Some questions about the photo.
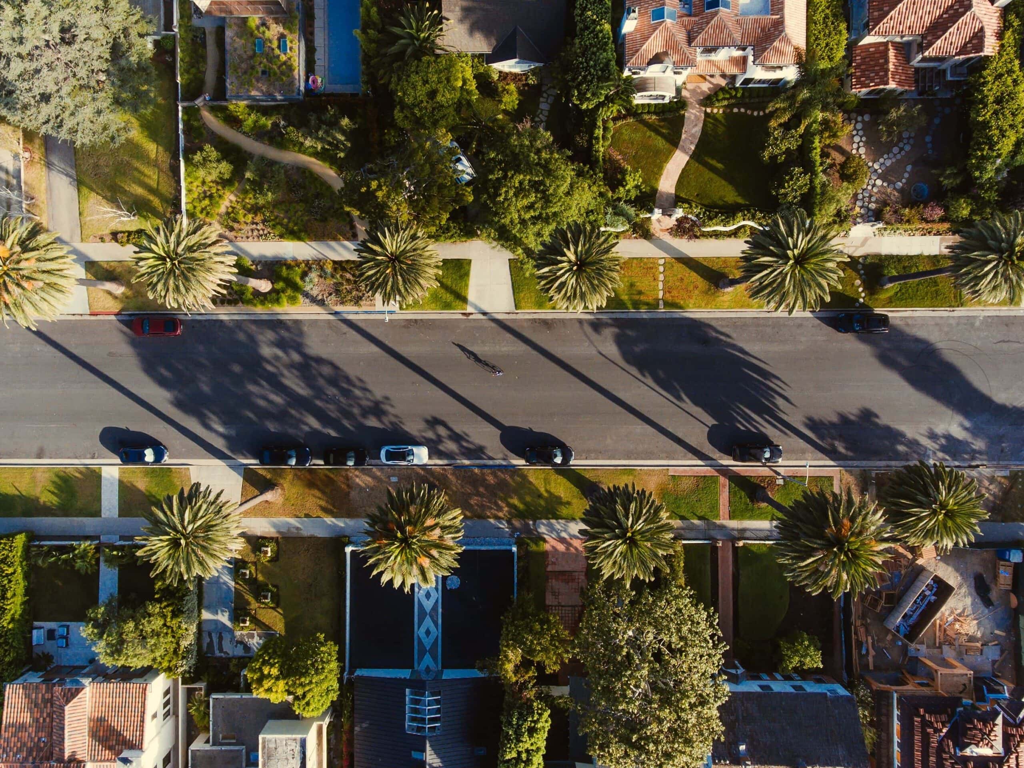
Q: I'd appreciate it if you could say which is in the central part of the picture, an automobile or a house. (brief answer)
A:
automobile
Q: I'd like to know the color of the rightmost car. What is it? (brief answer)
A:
black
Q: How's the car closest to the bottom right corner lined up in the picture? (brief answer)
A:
from side to side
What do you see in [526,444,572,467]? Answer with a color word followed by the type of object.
black car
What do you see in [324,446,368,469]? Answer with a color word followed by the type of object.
black car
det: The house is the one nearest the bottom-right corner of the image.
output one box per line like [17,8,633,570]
[859,656,1024,768]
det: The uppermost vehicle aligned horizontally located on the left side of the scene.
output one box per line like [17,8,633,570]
[133,315,183,338]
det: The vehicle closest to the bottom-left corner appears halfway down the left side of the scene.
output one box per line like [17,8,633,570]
[119,444,170,467]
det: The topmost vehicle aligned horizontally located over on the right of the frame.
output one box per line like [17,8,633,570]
[838,311,889,334]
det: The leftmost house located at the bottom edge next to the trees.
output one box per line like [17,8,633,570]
[0,655,172,768]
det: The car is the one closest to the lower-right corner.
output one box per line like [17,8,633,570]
[731,442,780,466]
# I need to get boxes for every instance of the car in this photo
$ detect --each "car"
[119,444,170,467]
[731,442,780,466]
[260,445,311,469]
[133,315,183,338]
[838,311,889,334]
[526,444,572,467]
[324,446,368,469]
[381,444,428,467]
